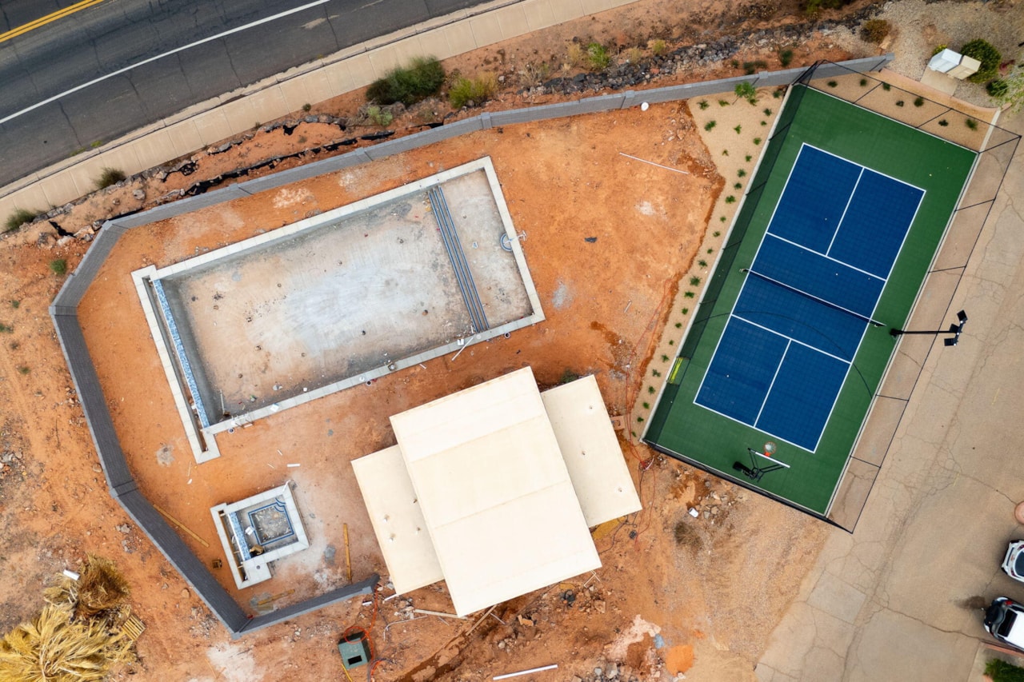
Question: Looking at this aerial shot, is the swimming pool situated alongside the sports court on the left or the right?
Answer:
left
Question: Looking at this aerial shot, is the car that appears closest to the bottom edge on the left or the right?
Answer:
right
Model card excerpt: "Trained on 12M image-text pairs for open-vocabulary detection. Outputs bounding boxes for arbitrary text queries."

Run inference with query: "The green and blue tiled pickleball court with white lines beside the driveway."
[637,86,985,517]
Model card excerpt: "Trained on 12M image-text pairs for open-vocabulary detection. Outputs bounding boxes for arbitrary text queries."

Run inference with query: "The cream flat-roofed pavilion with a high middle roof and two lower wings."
[351,366,642,618]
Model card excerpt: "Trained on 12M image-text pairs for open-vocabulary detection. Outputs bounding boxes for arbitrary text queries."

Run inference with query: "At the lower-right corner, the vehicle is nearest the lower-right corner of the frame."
[978,593,1024,650]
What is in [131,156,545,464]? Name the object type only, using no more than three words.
swimming pool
